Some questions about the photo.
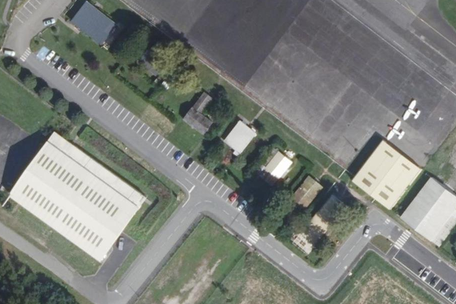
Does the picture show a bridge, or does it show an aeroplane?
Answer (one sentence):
It is an aeroplane that can be seen here.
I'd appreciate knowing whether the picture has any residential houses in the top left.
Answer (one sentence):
Yes, a residential house appears in the top left.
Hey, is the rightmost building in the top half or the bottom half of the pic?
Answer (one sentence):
The rightmost building sits in the bottom half of the picture.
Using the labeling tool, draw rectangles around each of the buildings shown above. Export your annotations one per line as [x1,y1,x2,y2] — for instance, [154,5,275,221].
[184,92,213,135]
[352,140,422,210]
[264,152,293,178]
[71,1,115,45]
[294,175,323,206]
[224,120,256,154]
[400,177,456,246]
[311,194,346,232]
[10,132,146,261]
[293,232,312,254]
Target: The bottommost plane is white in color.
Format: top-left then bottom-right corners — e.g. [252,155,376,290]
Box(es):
[388,120,404,140]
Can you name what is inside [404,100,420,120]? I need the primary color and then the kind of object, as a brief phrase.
white airplane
